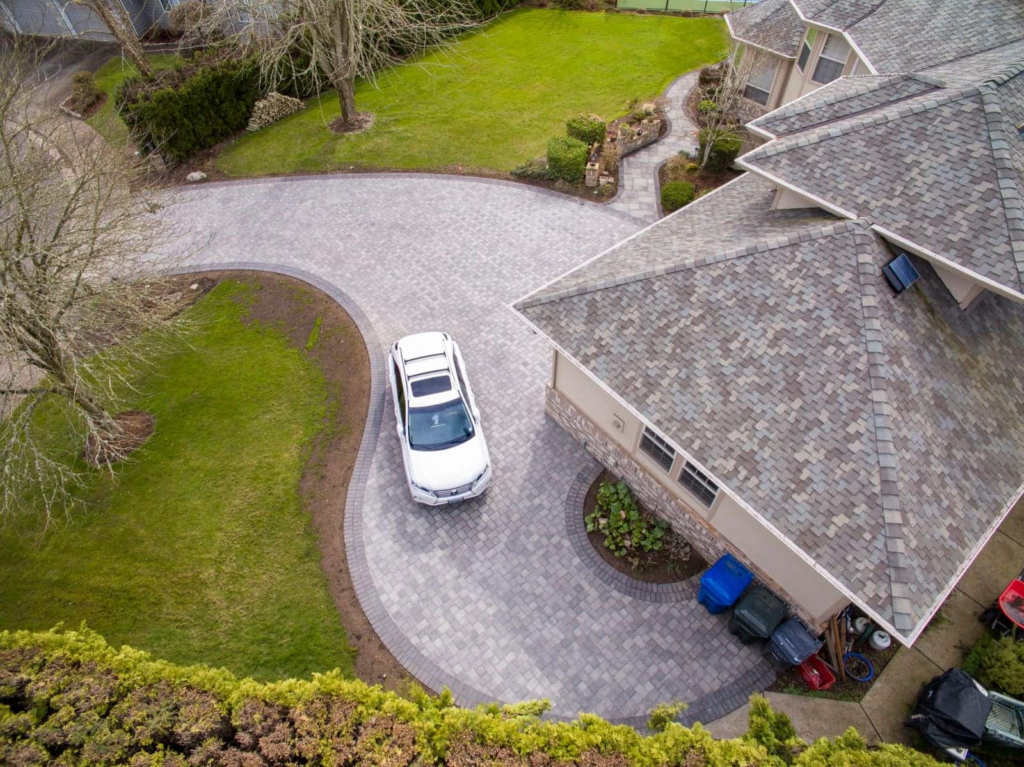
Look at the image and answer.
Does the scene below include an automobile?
Yes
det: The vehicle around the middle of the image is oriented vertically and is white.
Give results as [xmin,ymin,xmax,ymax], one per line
[384,333,488,507]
